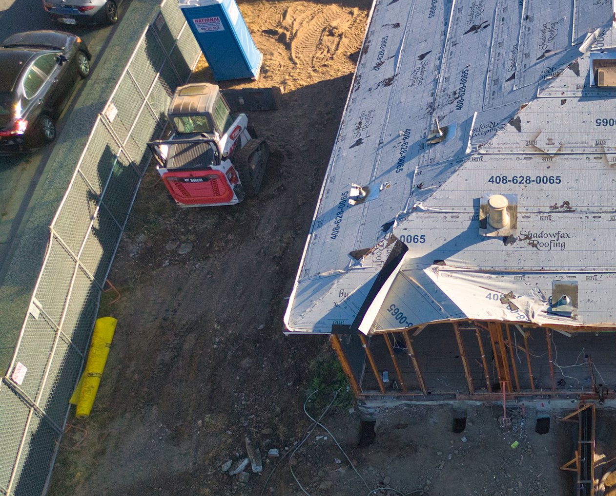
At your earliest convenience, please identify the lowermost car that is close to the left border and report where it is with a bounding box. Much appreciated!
[0,30,91,149]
